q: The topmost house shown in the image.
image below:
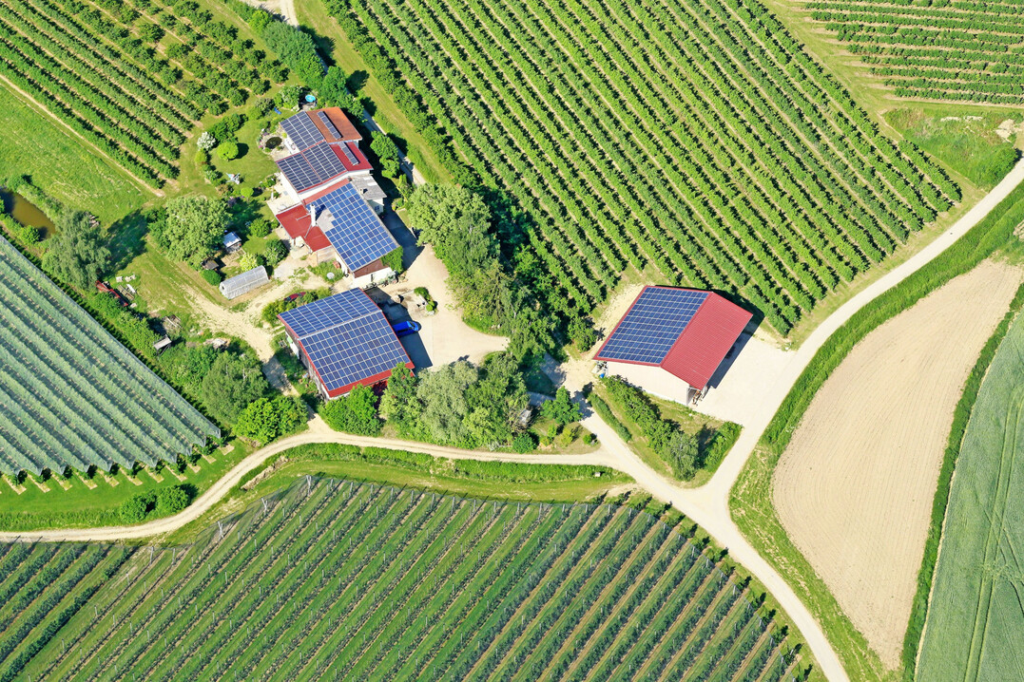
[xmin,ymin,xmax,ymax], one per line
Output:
[278,105,359,152]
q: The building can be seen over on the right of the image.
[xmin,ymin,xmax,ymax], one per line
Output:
[593,285,752,407]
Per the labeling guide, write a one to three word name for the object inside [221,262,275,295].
greenhouse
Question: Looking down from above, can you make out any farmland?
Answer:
Yes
